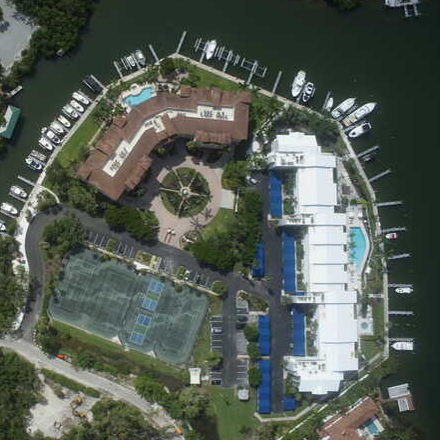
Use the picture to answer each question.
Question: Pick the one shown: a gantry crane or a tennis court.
tennis court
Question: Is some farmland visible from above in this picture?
No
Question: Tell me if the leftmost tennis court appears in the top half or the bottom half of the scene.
bottom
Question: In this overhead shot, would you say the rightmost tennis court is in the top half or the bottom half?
bottom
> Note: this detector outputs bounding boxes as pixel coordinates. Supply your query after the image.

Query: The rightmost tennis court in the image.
[153,293,198,357]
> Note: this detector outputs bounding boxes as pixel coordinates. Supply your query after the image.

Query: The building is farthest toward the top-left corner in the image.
[0,106,21,138]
